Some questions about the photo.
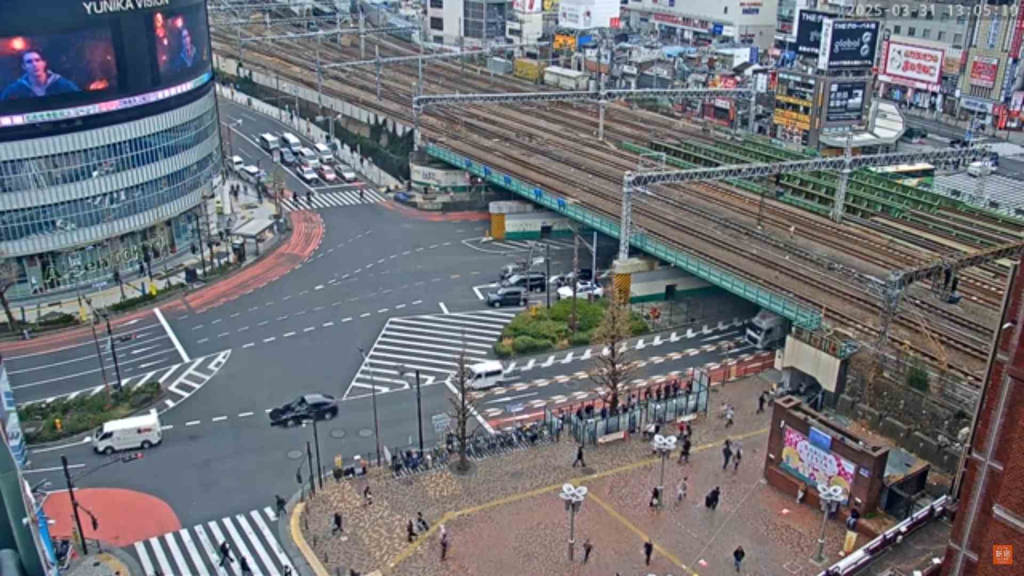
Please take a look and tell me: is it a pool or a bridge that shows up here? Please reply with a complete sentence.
The one in the frame is a bridge.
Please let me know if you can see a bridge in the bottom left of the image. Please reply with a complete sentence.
No, no bridge can be made out in the bottom left of the image.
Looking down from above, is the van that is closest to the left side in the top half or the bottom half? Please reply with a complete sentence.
The van that is closest to the left side sits in the bottom half of the picture.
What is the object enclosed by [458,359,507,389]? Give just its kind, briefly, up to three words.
van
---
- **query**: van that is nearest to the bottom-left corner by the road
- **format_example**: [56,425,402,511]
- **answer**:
[90,411,164,453]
